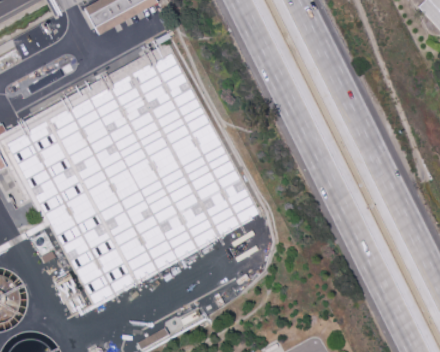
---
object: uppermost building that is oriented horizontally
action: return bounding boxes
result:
[85,0,160,35]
